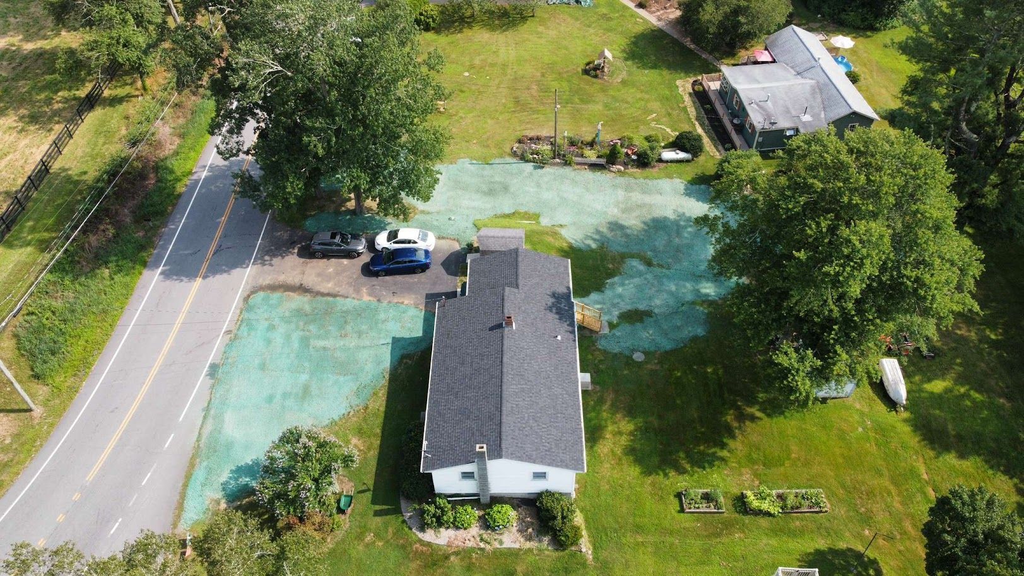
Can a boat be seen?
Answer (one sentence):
Yes, the photo shows a boat.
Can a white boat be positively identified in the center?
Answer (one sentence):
No, the scene shows no white boat in the center.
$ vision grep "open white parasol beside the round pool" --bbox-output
[828,37,856,55]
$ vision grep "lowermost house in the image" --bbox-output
[417,247,588,505]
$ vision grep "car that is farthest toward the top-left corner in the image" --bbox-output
[305,229,367,260]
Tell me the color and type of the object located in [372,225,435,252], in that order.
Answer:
white car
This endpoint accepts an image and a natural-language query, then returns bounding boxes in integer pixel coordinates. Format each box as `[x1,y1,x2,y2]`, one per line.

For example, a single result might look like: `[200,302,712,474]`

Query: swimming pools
[832,57,861,75]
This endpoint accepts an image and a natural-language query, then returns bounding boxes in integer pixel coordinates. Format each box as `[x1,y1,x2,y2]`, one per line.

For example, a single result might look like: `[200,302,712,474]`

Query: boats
[875,358,907,407]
